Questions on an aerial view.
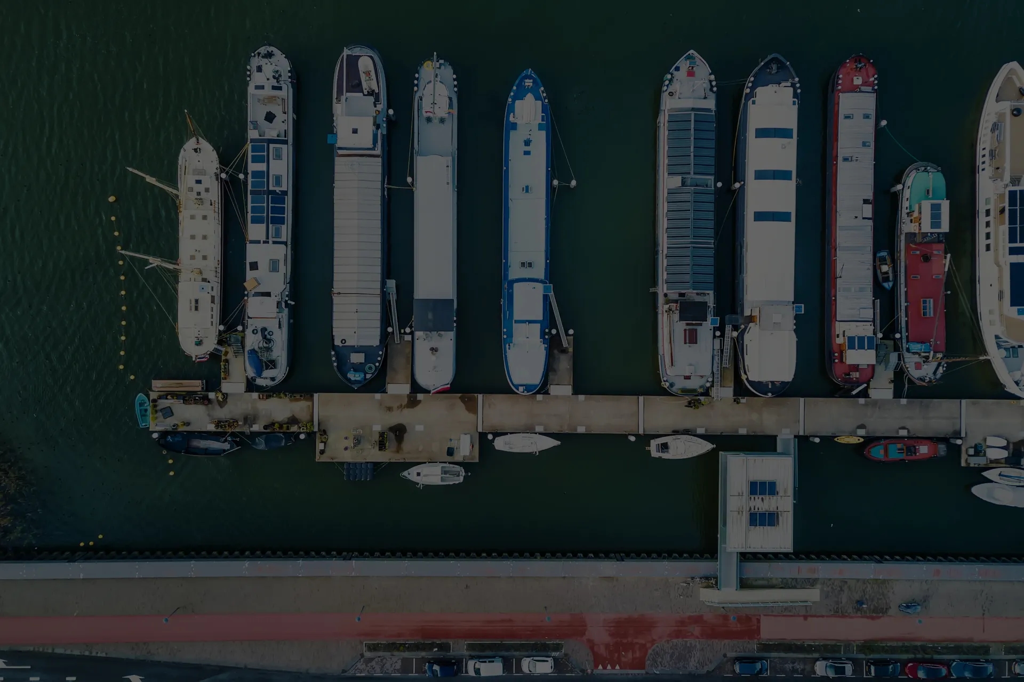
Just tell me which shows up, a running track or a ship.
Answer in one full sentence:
It is a ship that can be seen here.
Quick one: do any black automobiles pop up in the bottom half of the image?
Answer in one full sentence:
Yes, a black automobile is visible in the bottom half of the image.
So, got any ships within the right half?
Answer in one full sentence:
Yes, a ship shows up within the right half.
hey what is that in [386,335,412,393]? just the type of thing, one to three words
pier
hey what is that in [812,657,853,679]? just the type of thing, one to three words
car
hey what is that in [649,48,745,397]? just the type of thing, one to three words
ship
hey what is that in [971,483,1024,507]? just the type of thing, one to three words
boat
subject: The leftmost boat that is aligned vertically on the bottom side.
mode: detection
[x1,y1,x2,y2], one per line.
[136,393,150,427]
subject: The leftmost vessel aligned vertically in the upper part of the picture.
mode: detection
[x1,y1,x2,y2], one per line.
[118,109,239,360]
